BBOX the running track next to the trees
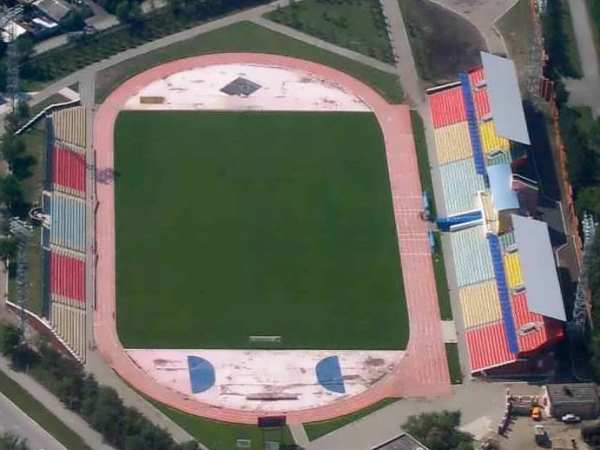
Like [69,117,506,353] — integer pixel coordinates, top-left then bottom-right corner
[91,52,453,426]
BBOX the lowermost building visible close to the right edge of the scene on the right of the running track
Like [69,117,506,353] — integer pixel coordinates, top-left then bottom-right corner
[542,378,600,418]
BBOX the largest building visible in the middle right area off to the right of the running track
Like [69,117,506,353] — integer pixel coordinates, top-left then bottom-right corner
[524,171,557,229]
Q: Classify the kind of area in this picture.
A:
sports ground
